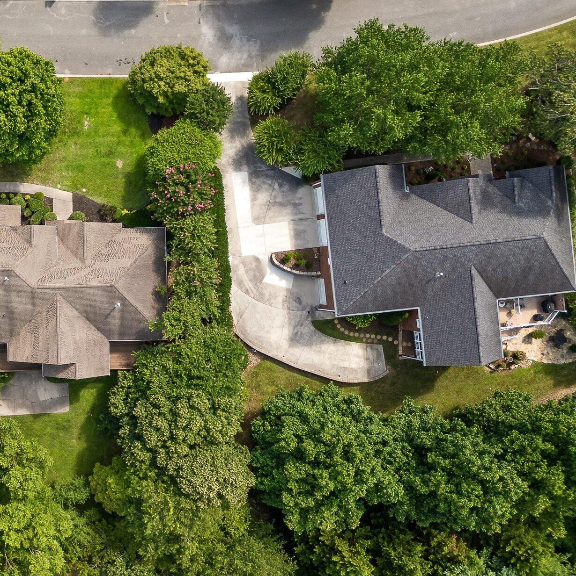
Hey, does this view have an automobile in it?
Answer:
No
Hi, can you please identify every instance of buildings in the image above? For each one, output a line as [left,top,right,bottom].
[0,203,168,379]
[312,164,576,367]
